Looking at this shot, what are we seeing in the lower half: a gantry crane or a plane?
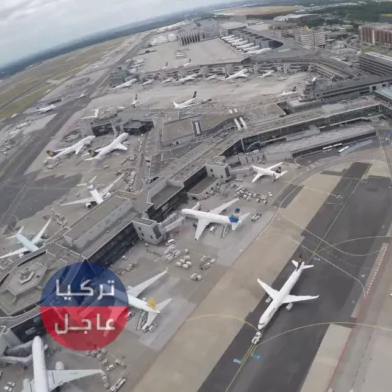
plane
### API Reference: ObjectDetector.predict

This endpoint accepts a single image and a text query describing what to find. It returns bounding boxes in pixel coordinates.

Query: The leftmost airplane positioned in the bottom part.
[0,219,56,258]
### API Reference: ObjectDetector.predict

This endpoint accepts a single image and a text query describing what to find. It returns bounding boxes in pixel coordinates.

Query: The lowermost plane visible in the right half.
[257,258,319,339]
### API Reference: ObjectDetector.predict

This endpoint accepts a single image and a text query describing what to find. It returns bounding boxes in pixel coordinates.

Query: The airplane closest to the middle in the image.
[182,198,248,237]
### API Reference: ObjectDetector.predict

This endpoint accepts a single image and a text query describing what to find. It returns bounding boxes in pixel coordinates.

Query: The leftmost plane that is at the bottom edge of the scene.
[32,339,111,392]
